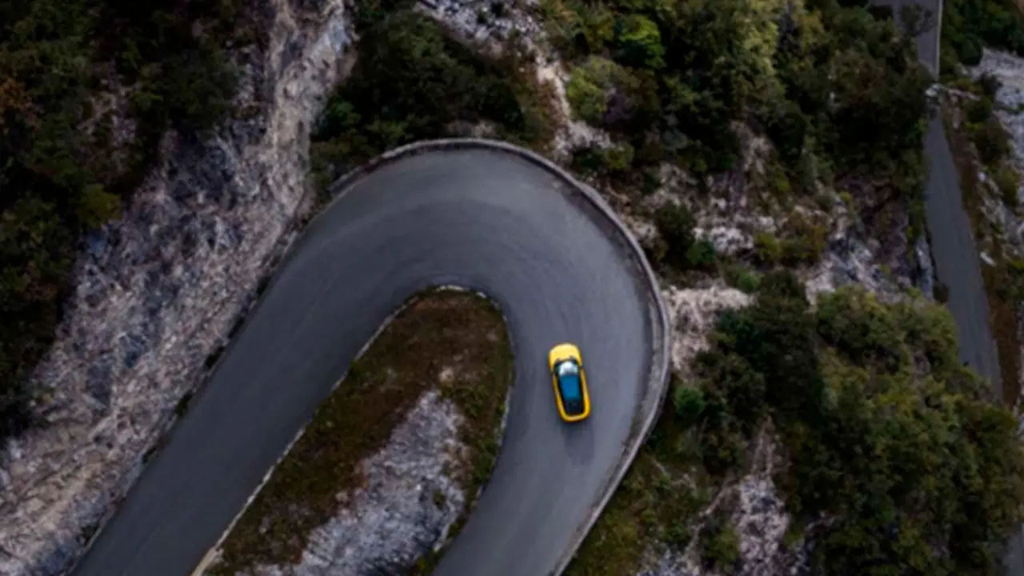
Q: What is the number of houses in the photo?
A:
none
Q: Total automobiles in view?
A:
one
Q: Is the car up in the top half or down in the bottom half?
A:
bottom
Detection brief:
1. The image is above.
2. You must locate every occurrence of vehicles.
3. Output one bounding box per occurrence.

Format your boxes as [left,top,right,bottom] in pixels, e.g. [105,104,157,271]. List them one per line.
[548,341,590,423]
